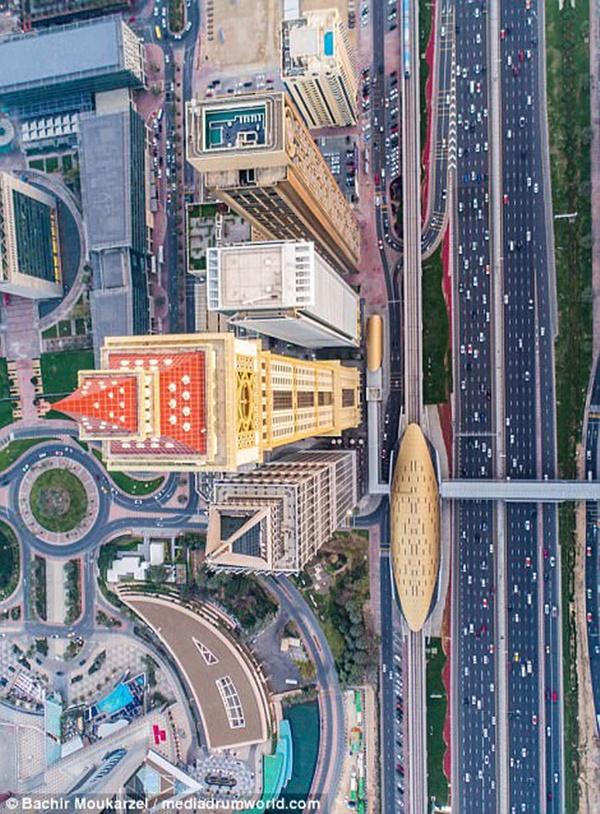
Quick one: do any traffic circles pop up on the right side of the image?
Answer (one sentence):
No, I can find no traffic circle on the right side of the image.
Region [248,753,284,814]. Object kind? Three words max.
swimming pool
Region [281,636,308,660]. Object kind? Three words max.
shed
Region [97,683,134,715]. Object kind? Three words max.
swimming pool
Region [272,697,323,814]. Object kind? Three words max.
pond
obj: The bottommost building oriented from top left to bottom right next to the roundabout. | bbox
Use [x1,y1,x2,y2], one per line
[115,588,274,751]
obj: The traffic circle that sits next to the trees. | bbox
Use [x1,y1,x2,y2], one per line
[7,444,111,556]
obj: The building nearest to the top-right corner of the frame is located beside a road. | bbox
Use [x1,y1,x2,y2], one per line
[282,9,361,134]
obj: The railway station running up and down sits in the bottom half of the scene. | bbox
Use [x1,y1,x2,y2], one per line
[388,425,443,632]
